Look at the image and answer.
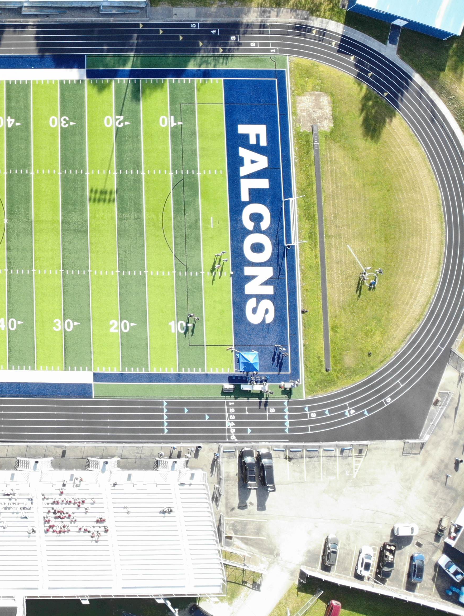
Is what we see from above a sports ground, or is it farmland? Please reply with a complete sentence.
What you see here is a sports ground.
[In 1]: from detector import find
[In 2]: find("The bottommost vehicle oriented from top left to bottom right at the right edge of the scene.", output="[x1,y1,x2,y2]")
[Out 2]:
[435,552,464,588]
